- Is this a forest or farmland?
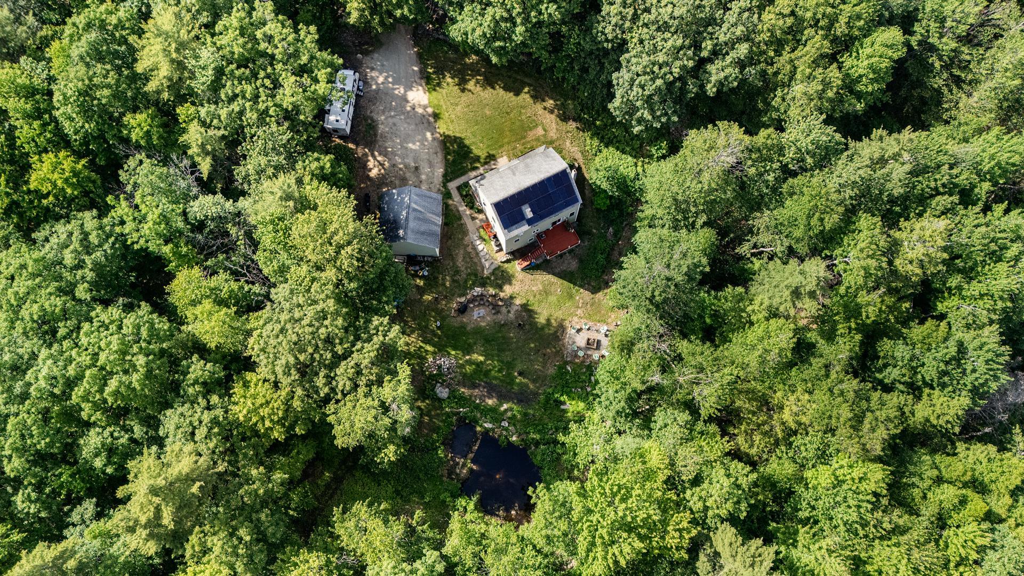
forest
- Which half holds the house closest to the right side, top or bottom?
top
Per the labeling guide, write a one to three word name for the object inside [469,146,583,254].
house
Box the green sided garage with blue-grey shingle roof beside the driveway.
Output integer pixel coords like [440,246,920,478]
[375,184,443,256]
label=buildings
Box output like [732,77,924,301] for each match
[469,146,583,254]
[375,184,443,256]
